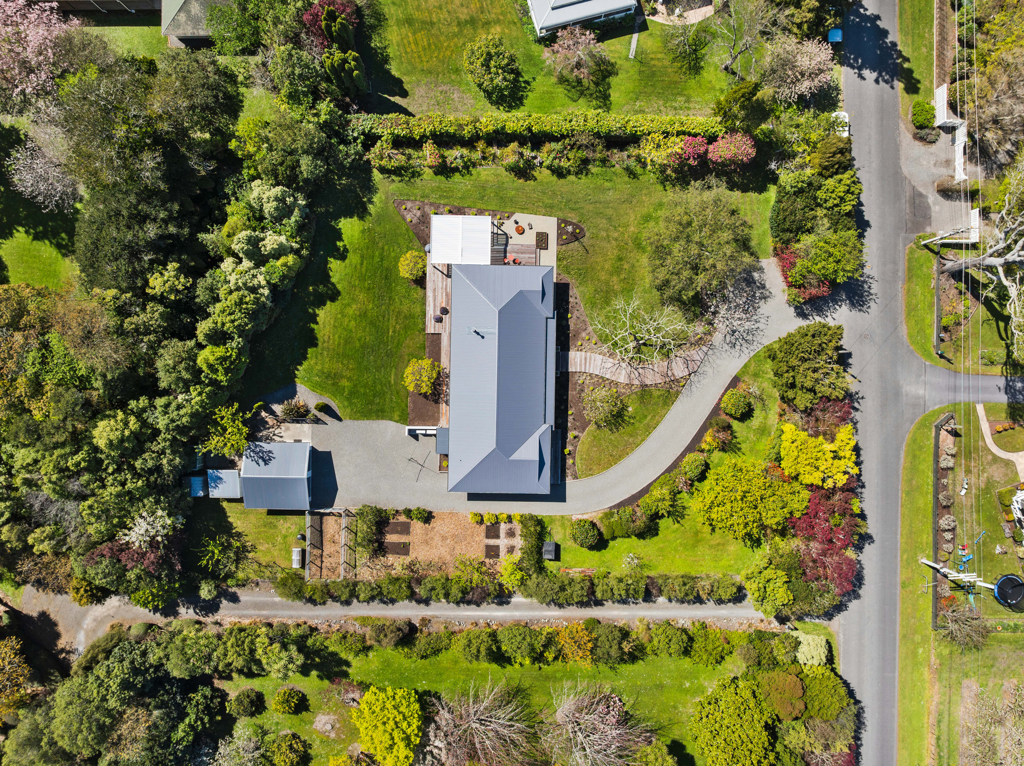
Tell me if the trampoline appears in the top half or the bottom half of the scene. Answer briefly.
bottom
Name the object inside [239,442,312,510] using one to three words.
building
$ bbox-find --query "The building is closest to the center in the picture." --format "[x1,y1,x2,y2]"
[447,264,556,495]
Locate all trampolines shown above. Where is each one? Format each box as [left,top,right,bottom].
[986,573,1024,611]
